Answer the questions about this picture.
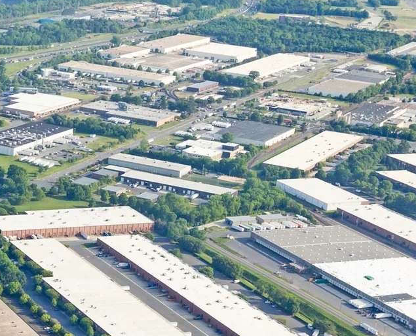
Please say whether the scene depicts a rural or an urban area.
urban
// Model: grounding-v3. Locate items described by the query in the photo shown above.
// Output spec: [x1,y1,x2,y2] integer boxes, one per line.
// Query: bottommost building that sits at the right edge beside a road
[313,257,416,332]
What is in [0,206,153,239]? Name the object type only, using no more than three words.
building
